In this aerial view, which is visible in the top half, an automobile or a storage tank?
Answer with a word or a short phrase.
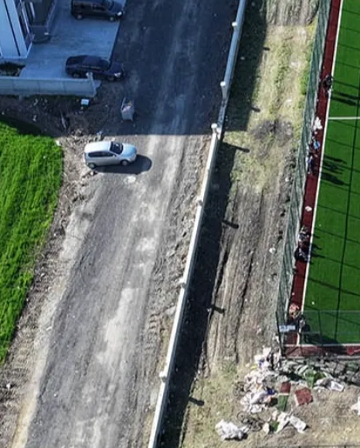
automobile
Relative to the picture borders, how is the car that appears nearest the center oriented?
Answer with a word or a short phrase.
from left to right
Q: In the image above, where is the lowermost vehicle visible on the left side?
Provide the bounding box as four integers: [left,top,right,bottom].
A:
[83,136,138,165]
